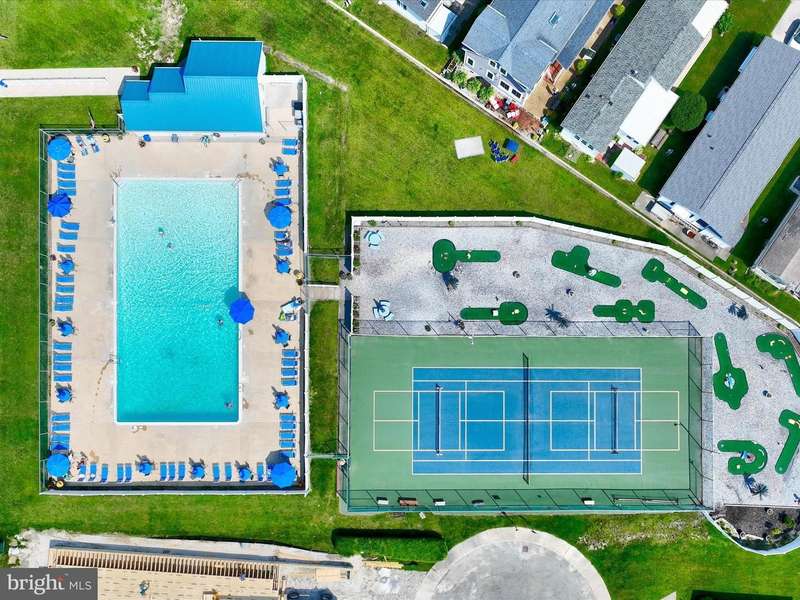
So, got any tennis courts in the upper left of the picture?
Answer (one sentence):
No, in the upper left of the picture there is no tennis court.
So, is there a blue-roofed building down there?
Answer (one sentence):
Yes, looking at the shot, I can spot a blue-roofed building.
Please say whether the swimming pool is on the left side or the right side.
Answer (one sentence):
The swimming pool appears in the left half of the scene.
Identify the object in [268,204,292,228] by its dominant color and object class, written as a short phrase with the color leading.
blue umbrella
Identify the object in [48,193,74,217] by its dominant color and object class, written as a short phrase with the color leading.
blue umbrella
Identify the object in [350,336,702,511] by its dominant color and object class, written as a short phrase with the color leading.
green tennis court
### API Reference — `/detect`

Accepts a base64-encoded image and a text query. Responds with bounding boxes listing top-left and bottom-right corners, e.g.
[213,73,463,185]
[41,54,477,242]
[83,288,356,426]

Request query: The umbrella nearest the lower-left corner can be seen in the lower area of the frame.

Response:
[48,452,73,475]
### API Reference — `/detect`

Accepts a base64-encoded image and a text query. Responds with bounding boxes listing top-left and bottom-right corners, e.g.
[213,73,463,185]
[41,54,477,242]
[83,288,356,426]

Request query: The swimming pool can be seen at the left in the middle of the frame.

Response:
[107,174,245,425]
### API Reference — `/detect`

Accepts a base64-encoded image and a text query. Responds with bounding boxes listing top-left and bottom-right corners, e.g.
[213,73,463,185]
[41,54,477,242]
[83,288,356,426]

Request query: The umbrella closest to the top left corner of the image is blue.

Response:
[48,137,73,161]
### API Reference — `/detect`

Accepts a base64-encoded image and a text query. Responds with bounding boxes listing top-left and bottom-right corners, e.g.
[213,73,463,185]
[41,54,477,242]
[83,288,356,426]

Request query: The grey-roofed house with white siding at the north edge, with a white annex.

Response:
[370,0,456,47]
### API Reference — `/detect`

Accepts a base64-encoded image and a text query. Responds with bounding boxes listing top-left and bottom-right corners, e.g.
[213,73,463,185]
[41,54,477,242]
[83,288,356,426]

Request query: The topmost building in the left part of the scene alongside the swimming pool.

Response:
[117,40,266,135]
